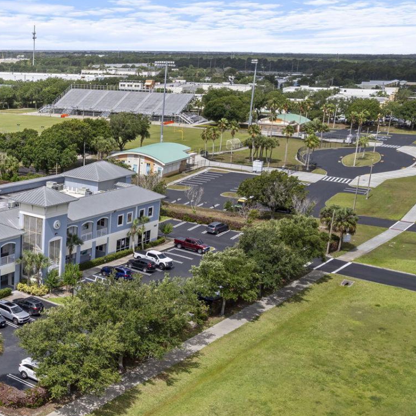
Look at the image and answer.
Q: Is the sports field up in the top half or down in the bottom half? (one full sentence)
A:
The top half of the photo is where the sports field is.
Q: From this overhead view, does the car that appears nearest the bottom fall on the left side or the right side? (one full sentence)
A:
The car that appears nearest the bottom sits on the left side.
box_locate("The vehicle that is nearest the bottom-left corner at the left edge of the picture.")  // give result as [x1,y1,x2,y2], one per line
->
[11,358,57,382]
